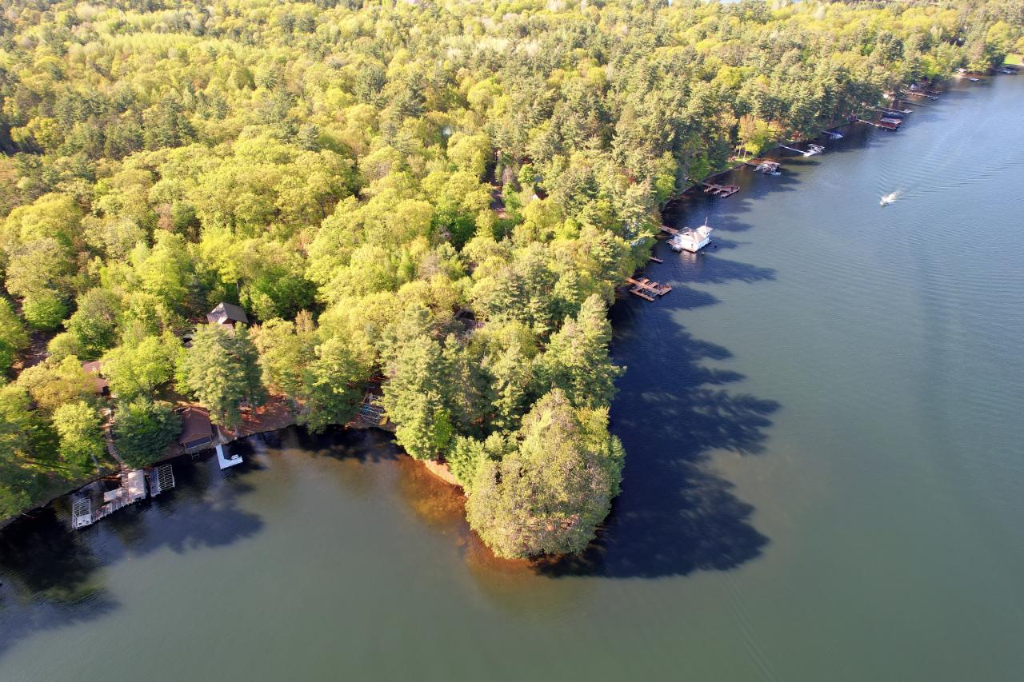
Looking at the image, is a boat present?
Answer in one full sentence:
Yes, a boat is visible in the scene.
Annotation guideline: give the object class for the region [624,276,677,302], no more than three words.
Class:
pier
